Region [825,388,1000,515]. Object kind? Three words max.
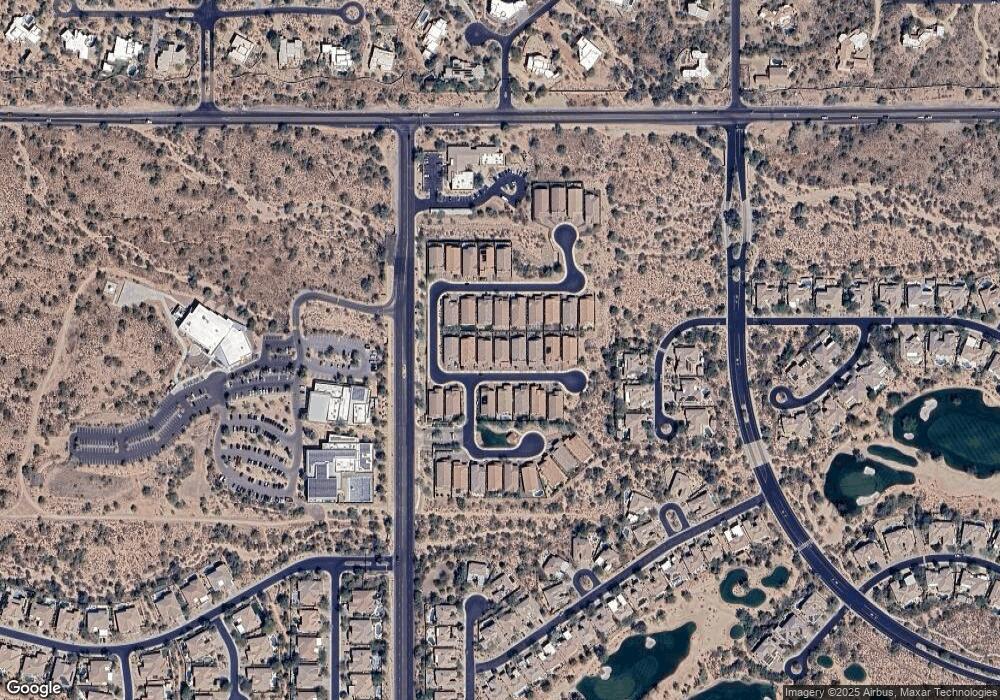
golf course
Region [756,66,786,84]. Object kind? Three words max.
building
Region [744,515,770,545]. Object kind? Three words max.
house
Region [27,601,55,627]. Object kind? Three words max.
house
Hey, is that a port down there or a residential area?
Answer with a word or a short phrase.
residential area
